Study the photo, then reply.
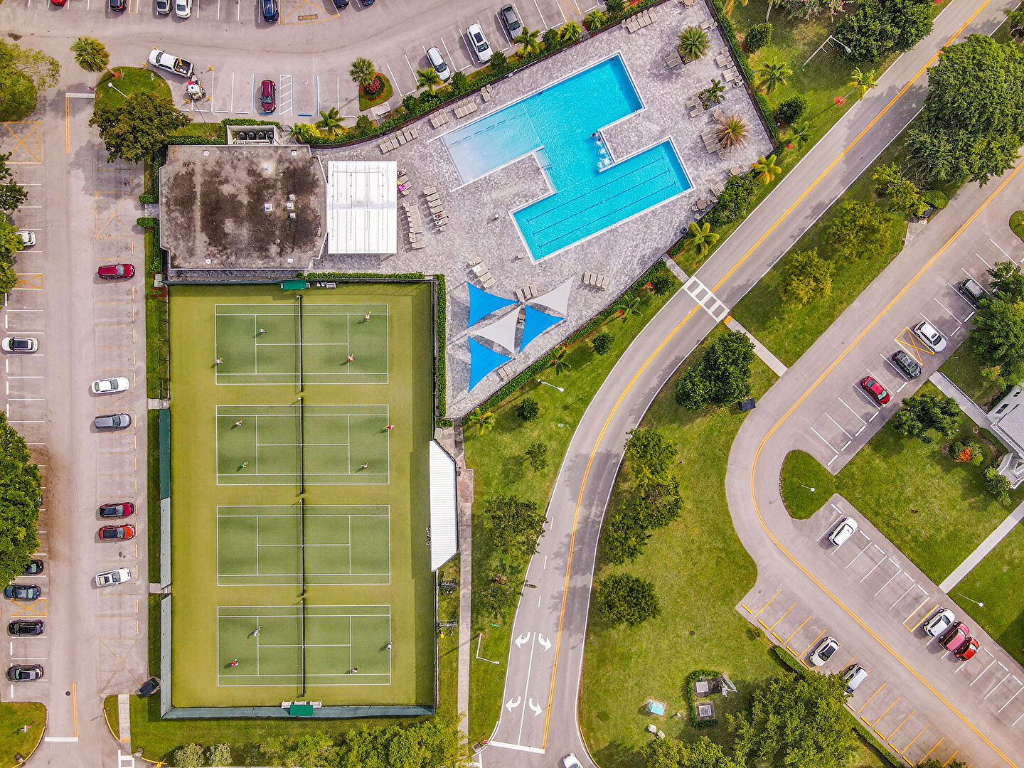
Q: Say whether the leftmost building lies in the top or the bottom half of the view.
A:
top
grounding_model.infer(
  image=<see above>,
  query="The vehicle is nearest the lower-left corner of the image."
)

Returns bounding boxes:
[6,664,45,683]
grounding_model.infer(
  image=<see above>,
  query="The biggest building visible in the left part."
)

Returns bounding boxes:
[159,145,328,271]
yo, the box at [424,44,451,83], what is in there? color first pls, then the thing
white car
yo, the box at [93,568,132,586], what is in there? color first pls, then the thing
white vehicle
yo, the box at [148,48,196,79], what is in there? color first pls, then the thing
white truck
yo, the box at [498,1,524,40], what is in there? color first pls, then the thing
gray car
